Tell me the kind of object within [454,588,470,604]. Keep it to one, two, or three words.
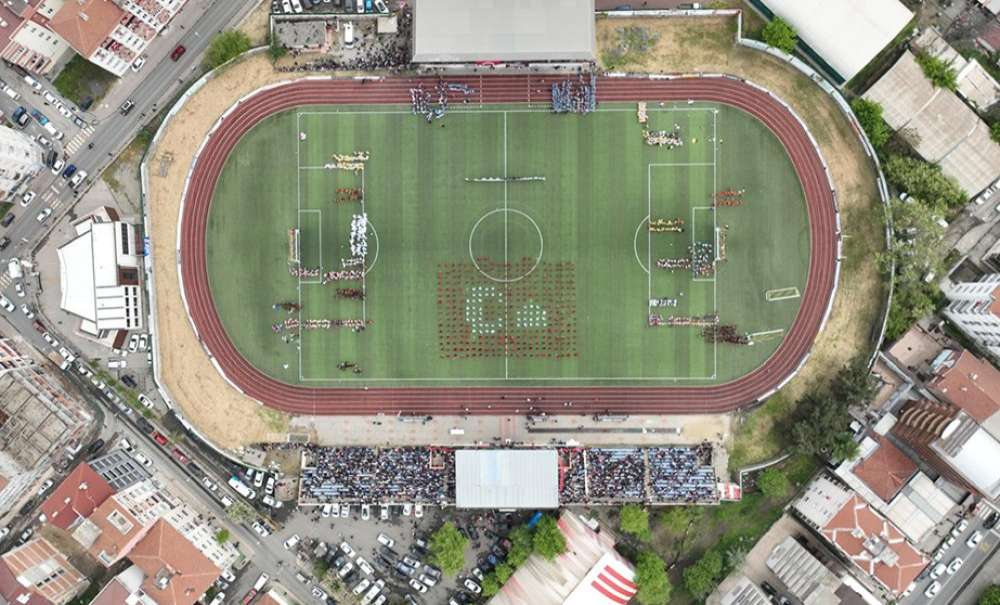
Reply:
car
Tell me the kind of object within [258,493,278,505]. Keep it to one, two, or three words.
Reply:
vehicle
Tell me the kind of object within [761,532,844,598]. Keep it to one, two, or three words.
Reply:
shed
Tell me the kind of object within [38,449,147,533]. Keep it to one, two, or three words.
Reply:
building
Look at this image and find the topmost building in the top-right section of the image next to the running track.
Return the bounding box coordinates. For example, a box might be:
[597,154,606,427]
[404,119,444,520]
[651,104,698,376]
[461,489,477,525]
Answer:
[739,0,915,91]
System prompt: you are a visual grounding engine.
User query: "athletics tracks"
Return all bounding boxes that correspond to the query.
[179,74,839,416]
